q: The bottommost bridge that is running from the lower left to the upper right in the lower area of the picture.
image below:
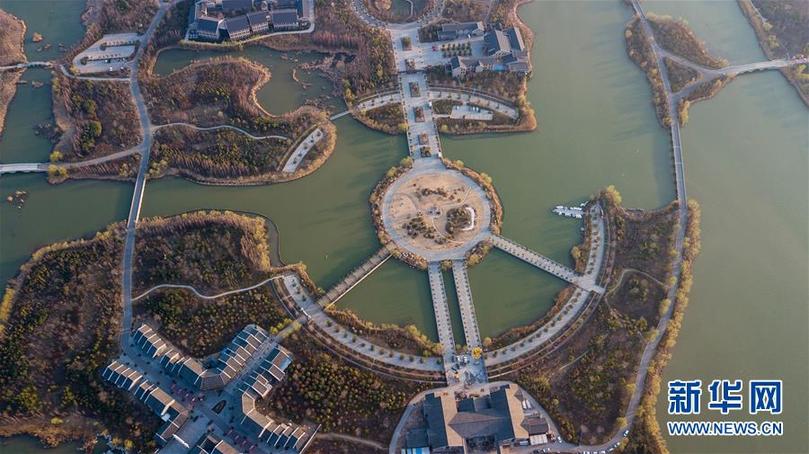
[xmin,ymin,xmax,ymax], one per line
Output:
[315,244,393,310]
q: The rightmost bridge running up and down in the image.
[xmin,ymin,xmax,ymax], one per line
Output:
[671,123,690,204]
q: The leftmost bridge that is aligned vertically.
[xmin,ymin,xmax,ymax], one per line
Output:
[125,177,145,225]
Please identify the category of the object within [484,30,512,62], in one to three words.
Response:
building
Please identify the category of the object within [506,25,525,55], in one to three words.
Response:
building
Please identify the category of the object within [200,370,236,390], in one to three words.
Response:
house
